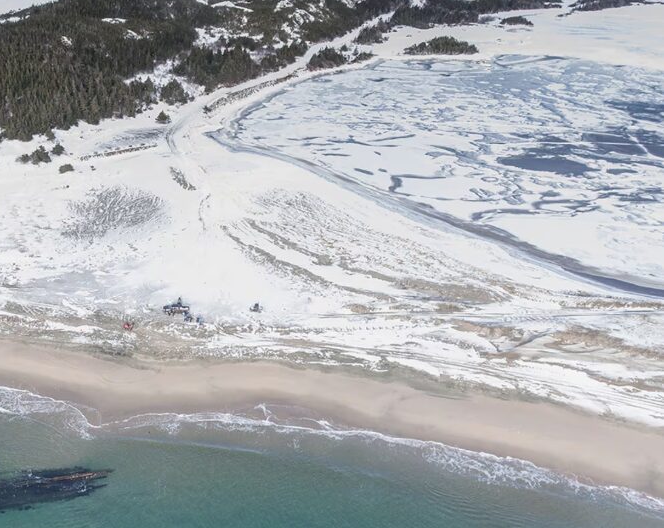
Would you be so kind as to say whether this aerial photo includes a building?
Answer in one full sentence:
No, no building is visible in the scene.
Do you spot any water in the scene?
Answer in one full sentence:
Yes, there is water in the image.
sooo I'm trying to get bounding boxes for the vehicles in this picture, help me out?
[122,323,134,330]
[184,313,196,321]
[162,303,190,316]
[250,307,260,313]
